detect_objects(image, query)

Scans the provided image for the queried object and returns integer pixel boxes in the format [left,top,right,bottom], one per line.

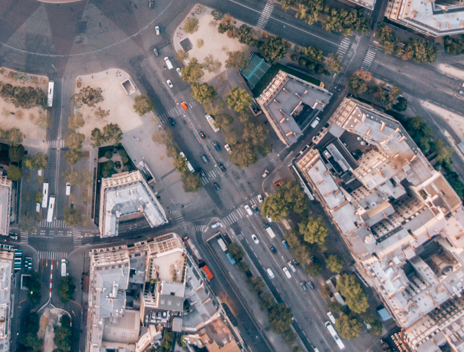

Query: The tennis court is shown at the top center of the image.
[240,54,271,89]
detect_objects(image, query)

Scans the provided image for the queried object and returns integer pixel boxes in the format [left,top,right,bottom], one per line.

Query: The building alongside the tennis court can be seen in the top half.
[255,69,332,146]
